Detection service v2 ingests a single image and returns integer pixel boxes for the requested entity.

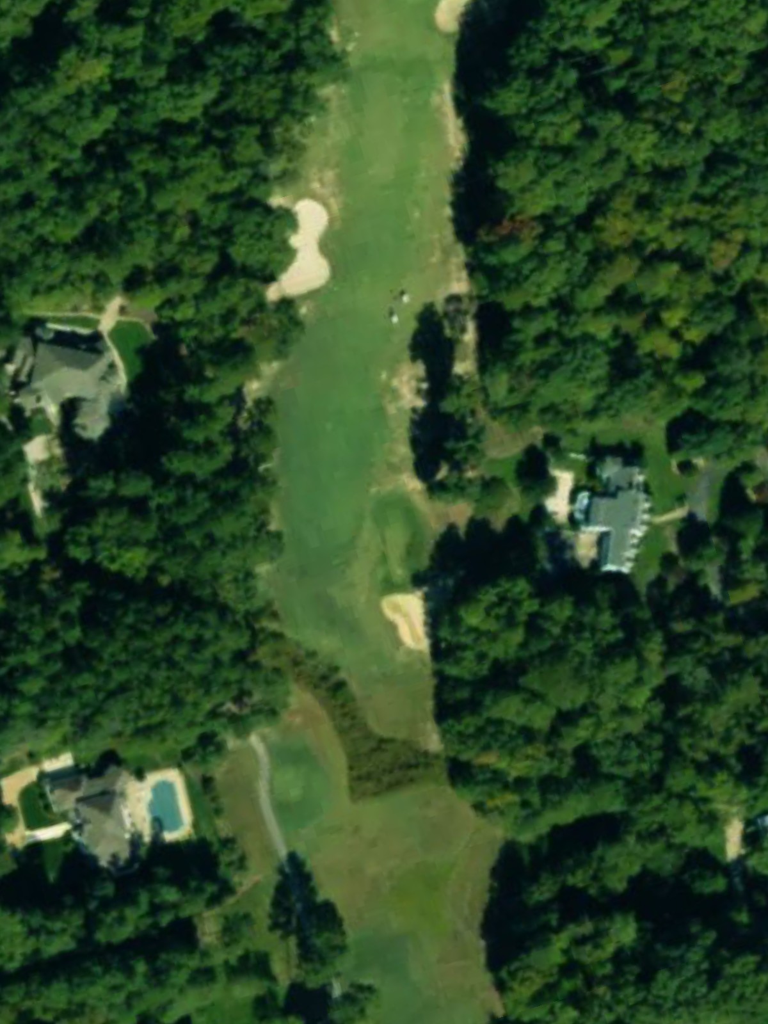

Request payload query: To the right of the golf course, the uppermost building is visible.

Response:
[575,456,649,572]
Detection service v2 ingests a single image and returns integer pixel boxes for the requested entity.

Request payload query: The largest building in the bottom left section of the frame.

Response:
[47,762,139,868]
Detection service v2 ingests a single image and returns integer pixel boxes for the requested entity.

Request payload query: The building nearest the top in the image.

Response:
[15,341,138,440]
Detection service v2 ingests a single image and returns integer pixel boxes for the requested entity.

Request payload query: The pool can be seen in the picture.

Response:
[148,778,182,833]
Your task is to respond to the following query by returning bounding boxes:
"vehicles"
[401,294,408,302]
[392,314,397,322]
